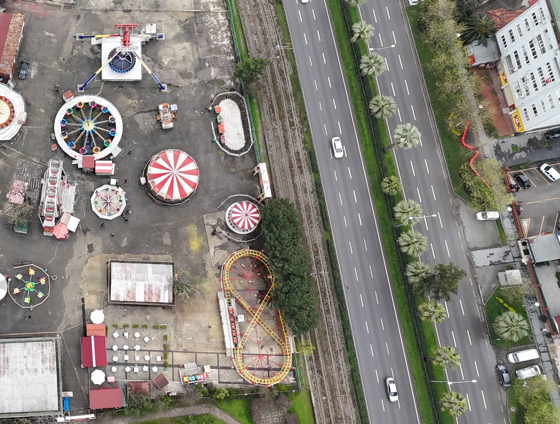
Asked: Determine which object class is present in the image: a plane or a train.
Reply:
train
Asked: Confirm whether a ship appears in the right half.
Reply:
No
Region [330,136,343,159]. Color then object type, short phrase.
white vehicle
